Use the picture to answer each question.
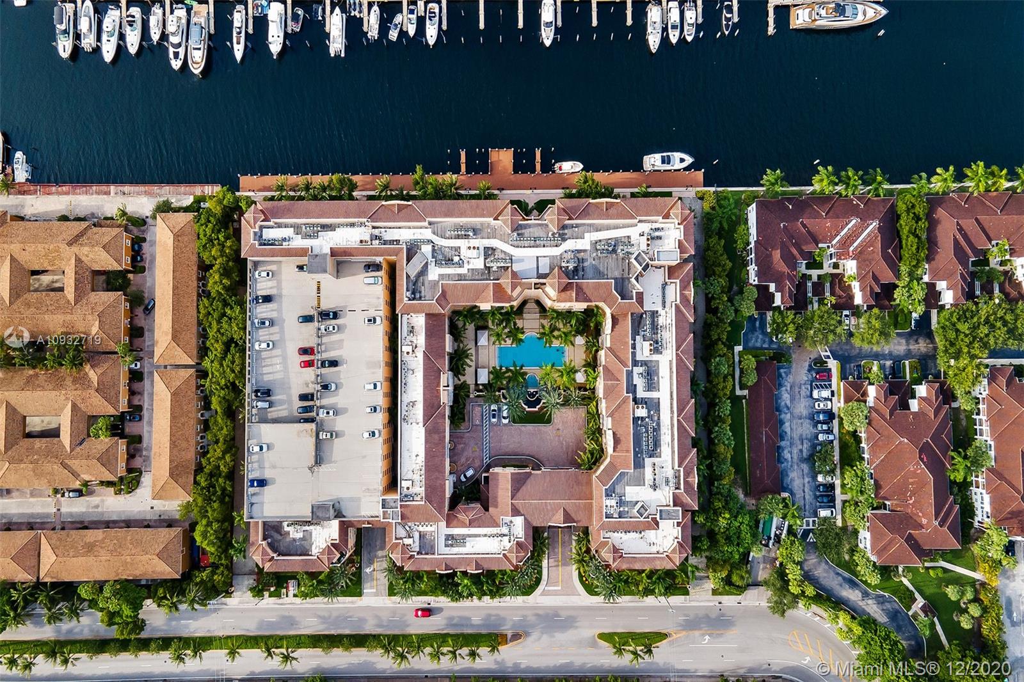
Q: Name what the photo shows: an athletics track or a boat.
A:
boat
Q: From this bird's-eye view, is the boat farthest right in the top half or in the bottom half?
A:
top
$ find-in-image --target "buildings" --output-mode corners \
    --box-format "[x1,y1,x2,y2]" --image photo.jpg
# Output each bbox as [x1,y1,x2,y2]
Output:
[39,523,190,582]
[838,379,962,566]
[0,354,132,488]
[910,191,1024,309]
[151,369,205,500]
[241,197,701,576]
[741,194,903,311]
[154,213,208,365]
[960,366,1024,536]
[914,599,938,620]
[0,221,136,351]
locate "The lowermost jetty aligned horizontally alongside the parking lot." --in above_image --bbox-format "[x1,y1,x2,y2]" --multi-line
[240,150,703,191]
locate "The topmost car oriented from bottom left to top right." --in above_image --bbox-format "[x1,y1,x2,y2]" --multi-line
[142,298,156,316]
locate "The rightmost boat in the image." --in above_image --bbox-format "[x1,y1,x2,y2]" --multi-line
[782,1,890,30]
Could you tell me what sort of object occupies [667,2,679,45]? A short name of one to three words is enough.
boat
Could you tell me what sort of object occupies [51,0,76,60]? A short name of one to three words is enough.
boat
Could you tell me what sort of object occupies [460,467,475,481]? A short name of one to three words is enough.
car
